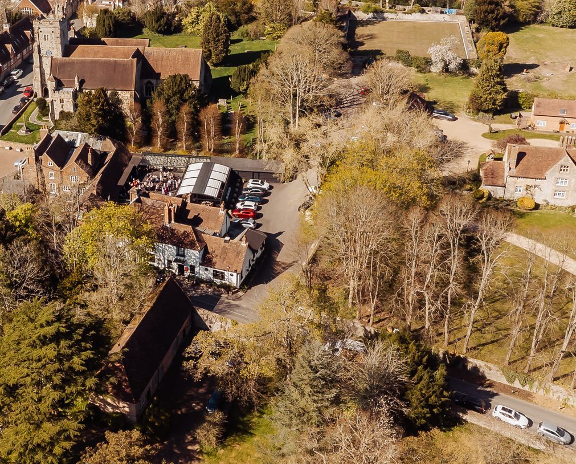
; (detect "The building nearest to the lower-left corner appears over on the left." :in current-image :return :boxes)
[92,274,198,428]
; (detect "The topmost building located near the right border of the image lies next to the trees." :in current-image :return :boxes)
[516,93,576,132]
